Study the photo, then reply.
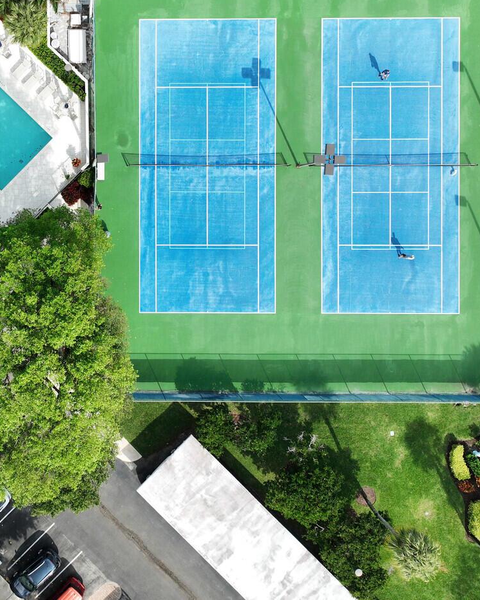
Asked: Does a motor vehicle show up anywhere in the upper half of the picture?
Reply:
No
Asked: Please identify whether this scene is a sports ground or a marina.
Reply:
sports ground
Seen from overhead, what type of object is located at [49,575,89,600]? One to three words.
car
